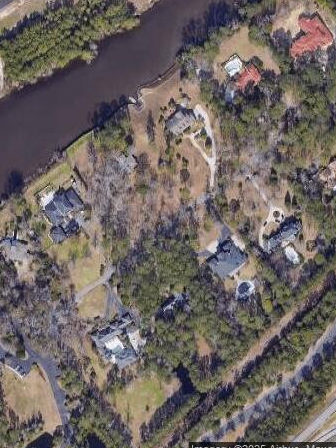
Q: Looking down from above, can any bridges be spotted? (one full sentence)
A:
No, the frame has no bridge in it.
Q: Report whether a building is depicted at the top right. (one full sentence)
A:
Yes, a building shows up at the top right.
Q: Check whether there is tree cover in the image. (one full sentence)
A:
Yes, tree cover shows up in the scene.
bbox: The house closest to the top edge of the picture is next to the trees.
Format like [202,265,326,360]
[288,10,333,62]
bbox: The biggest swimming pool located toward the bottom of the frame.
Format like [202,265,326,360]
[236,279,253,296]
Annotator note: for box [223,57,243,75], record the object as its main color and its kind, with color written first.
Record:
white swimming pool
